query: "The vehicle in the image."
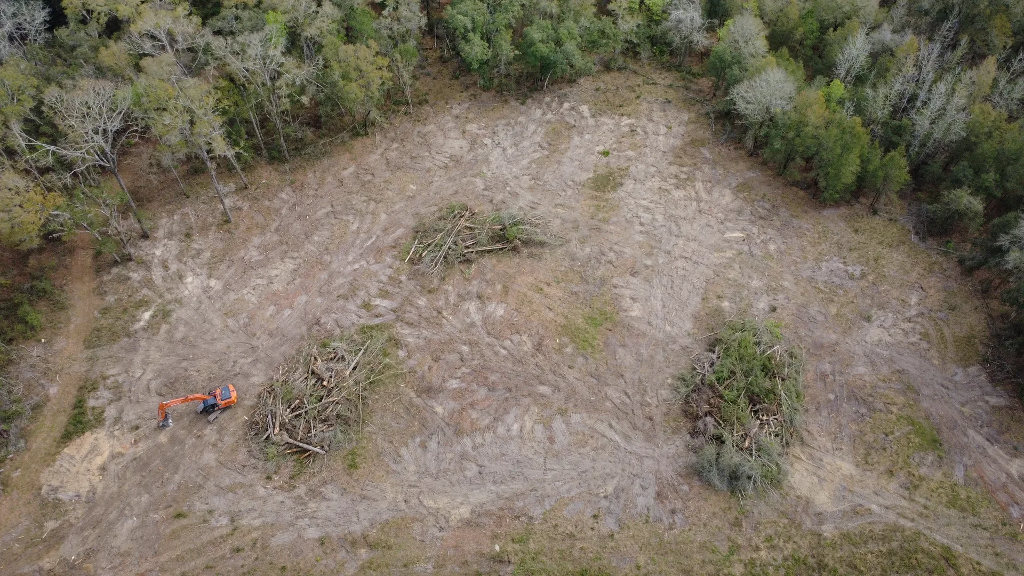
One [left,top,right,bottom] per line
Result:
[151,384,239,429]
